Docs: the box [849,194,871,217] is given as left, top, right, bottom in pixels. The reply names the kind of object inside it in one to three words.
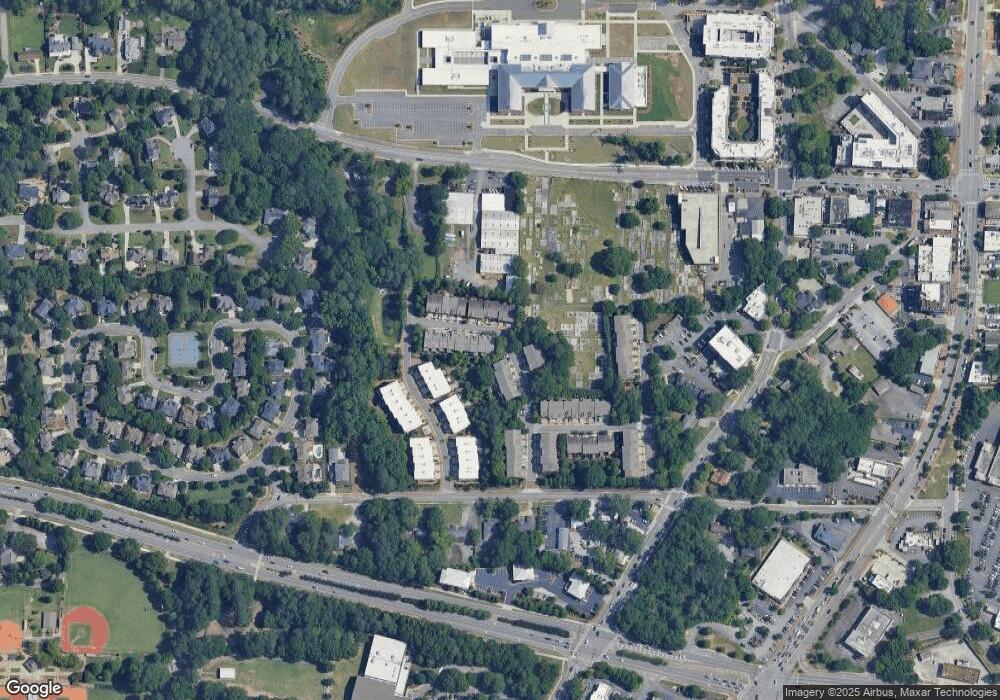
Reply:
building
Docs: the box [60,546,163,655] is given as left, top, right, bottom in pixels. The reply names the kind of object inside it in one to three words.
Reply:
baseball field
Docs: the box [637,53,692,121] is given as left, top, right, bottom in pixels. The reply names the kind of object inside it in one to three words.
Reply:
sports field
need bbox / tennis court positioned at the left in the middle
[169,332,200,366]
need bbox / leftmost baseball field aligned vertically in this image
[0,586,24,658]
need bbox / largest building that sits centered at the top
[422,18,603,111]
